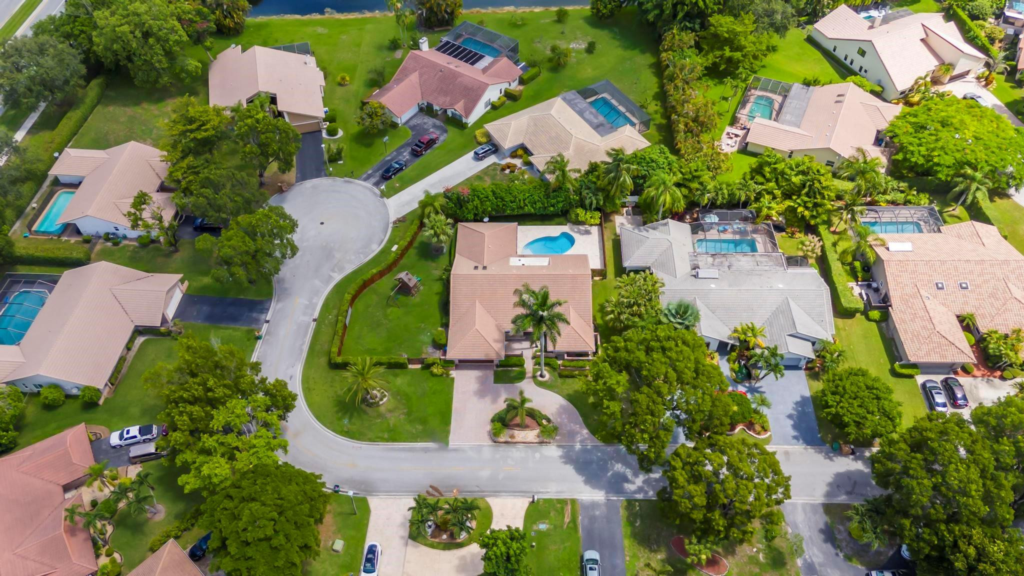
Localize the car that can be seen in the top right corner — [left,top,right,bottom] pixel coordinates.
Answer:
[962,93,990,108]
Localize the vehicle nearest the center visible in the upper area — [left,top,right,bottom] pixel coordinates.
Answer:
[472,144,498,160]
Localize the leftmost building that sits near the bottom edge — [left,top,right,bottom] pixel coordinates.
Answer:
[0,422,99,576]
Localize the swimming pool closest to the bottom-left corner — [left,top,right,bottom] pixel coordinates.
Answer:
[0,288,51,345]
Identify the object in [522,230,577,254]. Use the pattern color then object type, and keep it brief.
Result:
blue swimming pool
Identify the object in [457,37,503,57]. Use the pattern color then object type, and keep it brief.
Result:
blue swimming pool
